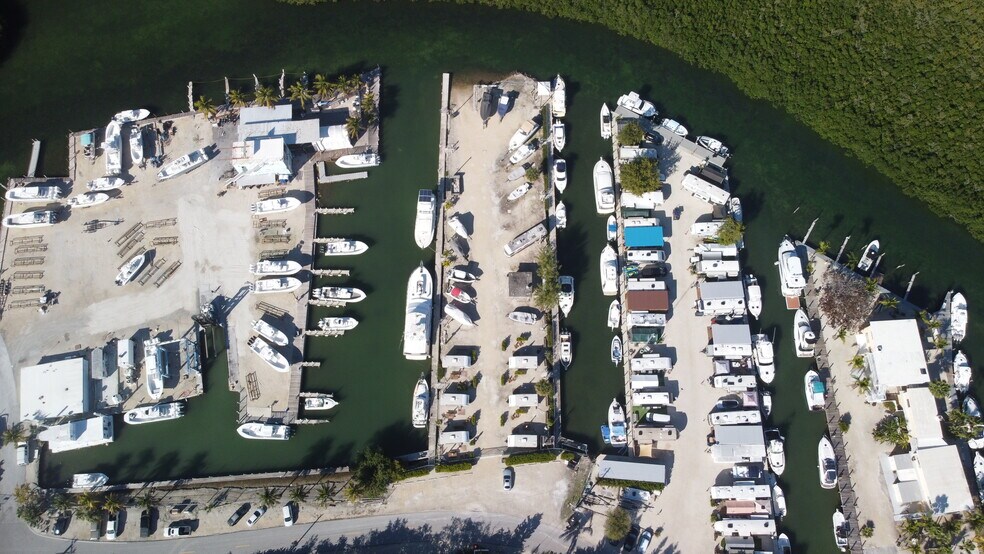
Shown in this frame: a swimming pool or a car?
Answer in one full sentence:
The image shows a car.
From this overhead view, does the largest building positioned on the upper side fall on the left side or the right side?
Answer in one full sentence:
You can find the largest building positioned on the upper side on the left side of the picture.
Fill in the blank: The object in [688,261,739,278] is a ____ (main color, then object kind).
white trailer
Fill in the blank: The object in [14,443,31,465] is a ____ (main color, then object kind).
white vehicle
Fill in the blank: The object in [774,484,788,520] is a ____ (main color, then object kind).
white boat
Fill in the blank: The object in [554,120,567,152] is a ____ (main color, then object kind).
white boat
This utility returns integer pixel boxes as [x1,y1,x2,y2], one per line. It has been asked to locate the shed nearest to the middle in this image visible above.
[509,272,532,299]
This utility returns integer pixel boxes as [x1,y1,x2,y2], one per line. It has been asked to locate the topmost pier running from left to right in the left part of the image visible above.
[67,111,195,136]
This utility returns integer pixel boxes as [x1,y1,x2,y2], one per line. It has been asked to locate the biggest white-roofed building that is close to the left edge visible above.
[19,357,93,421]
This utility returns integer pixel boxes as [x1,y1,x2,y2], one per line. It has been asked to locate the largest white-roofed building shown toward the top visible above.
[221,104,323,192]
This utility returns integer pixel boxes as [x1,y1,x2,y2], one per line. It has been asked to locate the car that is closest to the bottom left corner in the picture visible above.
[54,515,69,535]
